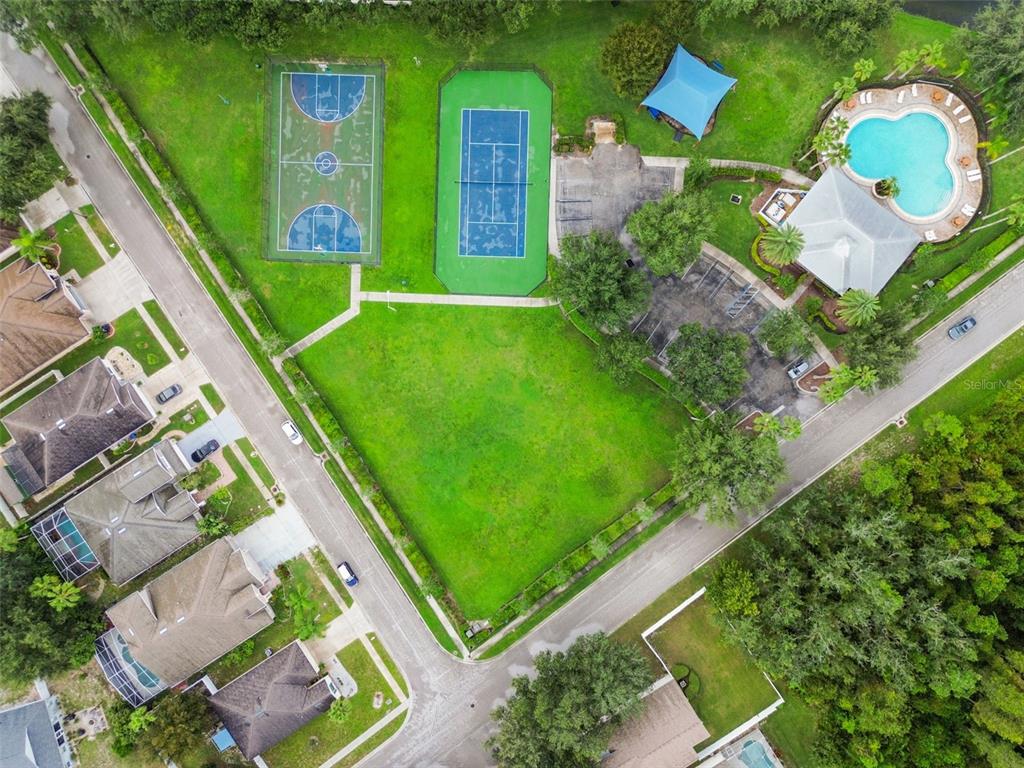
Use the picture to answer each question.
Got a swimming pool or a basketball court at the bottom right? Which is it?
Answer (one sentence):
What appears at the bottom right is a swimming pool.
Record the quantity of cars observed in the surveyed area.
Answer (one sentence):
The photo contains 6 cars.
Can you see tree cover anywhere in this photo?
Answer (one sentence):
Yes, some tree cover is visible.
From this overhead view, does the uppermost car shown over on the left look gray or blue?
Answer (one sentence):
The uppermost car shown over on the left looks gray in the image.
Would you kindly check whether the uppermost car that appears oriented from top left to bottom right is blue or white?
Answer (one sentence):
The uppermost car that appears oriented from top left to bottom right looks white in the image.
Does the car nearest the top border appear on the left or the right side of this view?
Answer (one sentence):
It is on the right.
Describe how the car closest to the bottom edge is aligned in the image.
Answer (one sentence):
The car closest to the bottom edge is oriented on a diagonal.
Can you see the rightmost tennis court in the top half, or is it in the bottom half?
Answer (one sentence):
The rightmost tennis court is in the top half of the image.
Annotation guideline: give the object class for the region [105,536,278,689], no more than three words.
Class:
house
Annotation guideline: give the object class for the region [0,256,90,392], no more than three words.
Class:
house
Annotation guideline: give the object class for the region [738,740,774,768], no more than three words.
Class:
swimming pool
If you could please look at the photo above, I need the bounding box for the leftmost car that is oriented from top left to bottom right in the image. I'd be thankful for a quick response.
[282,419,306,448]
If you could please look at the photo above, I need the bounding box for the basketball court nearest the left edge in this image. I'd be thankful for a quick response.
[267,63,384,264]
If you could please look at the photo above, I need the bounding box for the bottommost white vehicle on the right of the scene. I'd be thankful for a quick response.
[784,360,810,381]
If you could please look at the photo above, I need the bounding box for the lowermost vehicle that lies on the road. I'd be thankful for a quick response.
[336,558,361,588]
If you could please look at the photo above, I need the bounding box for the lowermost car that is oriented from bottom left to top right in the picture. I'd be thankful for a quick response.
[191,439,222,463]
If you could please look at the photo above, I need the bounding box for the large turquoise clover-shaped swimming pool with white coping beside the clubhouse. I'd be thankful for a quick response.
[818,83,983,243]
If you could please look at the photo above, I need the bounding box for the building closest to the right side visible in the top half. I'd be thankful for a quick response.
[783,166,921,297]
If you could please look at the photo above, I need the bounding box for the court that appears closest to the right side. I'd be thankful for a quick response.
[434,70,552,294]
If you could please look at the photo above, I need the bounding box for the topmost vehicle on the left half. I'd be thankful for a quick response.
[156,383,186,405]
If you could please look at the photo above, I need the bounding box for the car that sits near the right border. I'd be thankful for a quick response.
[946,316,977,340]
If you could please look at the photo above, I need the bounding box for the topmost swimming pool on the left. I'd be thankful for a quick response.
[59,518,96,566]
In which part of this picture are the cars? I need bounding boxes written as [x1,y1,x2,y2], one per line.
[282,419,306,448]
[336,558,361,588]
[784,360,810,381]
[156,383,186,405]
[191,439,222,463]
[946,316,977,340]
